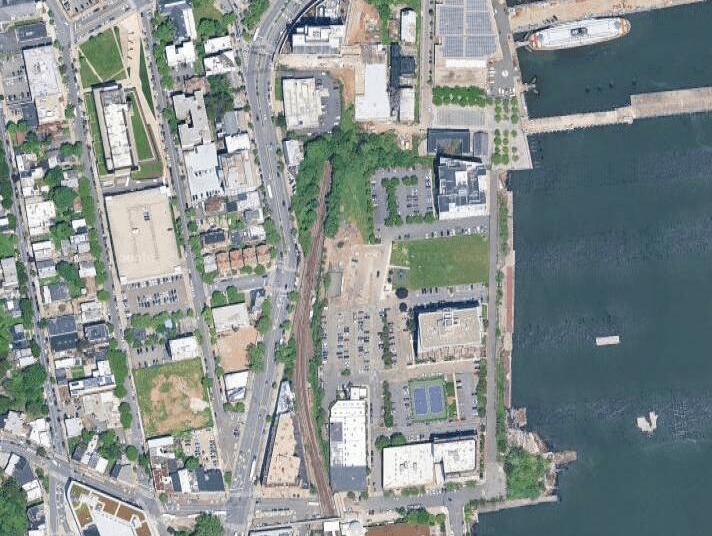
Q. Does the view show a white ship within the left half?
No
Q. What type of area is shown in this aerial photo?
residential area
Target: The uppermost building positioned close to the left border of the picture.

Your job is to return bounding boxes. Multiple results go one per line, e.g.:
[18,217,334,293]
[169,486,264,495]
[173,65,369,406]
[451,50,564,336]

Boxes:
[0,0,38,26]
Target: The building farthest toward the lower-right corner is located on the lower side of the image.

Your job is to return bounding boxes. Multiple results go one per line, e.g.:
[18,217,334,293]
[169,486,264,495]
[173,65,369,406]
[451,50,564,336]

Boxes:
[434,435,475,487]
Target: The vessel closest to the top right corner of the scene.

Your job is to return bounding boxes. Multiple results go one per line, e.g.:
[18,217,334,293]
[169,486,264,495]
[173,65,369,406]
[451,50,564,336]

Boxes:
[527,19,631,51]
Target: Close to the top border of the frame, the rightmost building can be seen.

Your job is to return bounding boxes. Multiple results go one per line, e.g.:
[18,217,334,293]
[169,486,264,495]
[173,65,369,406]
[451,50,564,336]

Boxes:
[435,0,504,90]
